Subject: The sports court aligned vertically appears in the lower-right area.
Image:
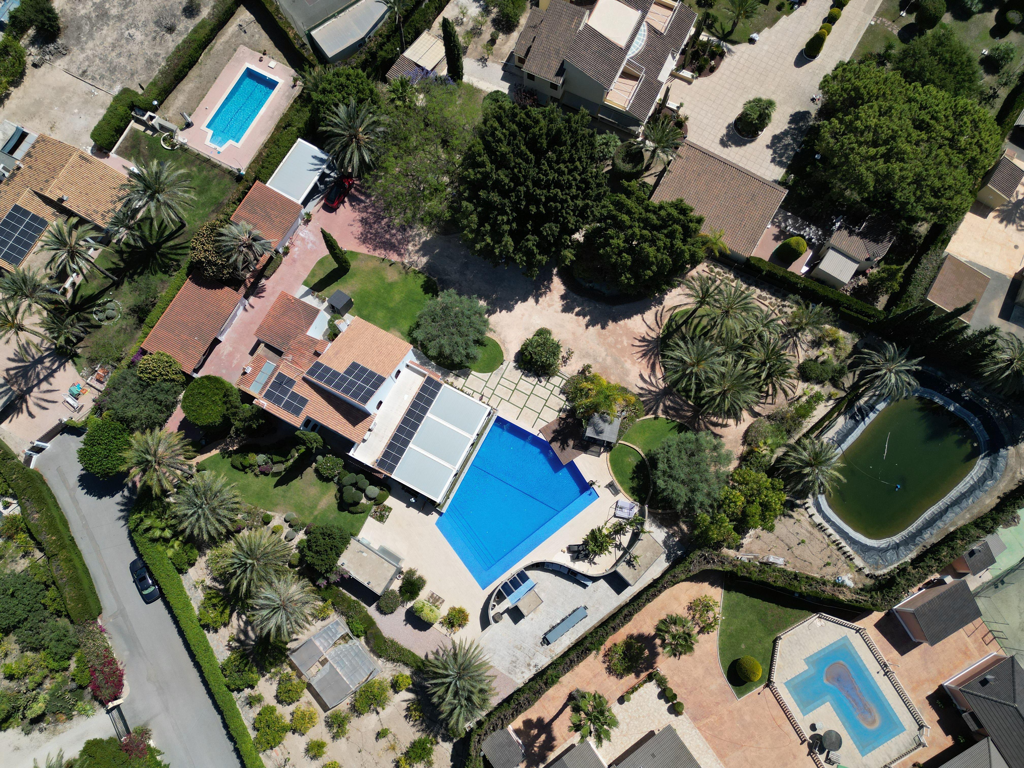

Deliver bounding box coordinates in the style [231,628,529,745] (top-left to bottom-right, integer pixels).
[972,510,1024,664]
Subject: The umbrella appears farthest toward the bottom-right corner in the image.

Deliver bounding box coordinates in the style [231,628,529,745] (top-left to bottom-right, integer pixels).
[820,727,843,753]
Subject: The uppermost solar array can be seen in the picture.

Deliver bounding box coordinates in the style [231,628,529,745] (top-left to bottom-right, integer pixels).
[0,204,47,265]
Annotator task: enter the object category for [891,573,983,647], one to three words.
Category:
building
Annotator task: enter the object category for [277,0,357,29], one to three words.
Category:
tennis court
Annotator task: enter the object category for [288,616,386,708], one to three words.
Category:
greenhouse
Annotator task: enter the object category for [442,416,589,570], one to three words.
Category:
swimming pool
